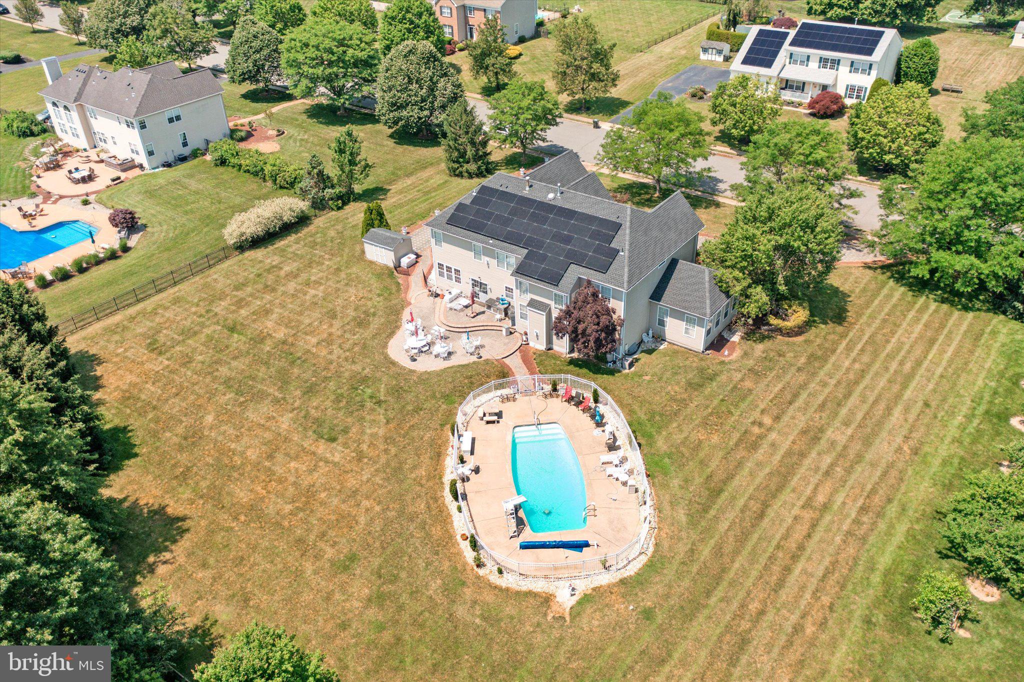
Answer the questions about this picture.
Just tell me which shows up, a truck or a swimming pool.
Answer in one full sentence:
The one in the frame is a swimming pool.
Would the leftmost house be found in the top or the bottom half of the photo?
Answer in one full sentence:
You can find the leftmost house in the top half.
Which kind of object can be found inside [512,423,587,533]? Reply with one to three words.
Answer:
swimming pool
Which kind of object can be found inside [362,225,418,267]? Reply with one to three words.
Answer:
shed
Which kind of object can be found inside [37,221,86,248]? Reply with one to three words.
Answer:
swimming pool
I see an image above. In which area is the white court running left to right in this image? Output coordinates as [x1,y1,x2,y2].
[937,9,1022,26]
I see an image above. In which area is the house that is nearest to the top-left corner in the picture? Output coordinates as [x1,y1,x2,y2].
[36,57,234,170]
